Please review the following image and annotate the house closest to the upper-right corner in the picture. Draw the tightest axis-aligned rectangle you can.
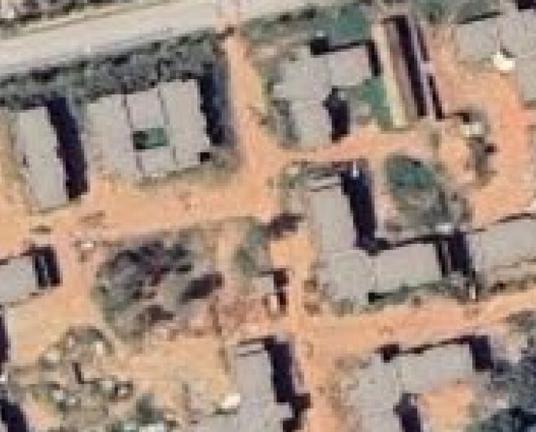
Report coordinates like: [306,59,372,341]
[458,3,536,101]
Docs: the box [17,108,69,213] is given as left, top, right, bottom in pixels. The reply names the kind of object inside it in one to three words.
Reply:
house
